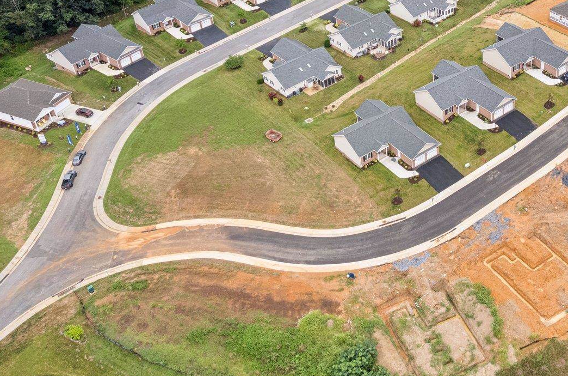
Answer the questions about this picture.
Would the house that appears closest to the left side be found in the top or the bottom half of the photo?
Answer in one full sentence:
The house that appears closest to the left side is in the top half of the image.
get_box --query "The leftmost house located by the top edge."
[50,19,147,74]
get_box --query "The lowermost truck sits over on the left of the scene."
[57,167,79,189]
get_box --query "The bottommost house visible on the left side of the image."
[0,76,70,133]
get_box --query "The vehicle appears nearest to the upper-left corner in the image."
[73,104,95,117]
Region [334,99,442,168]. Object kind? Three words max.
house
